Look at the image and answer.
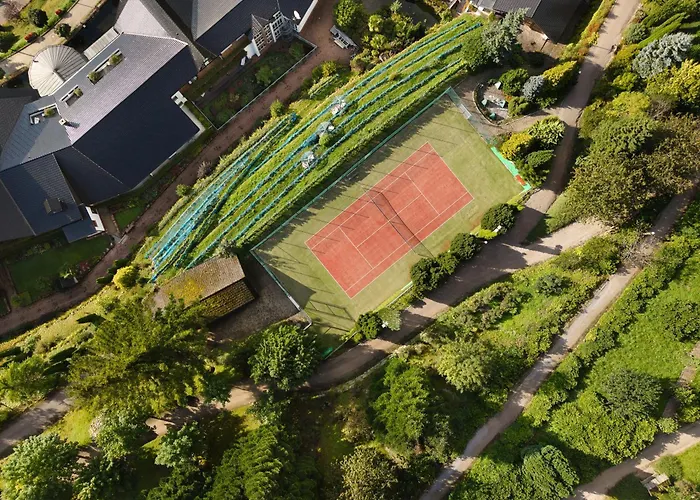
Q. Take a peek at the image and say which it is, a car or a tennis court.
tennis court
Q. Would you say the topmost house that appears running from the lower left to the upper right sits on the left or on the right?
left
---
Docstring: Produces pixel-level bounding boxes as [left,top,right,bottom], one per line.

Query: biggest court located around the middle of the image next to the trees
[255,95,524,350]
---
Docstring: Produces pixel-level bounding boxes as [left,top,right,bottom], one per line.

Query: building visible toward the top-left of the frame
[0,0,327,256]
